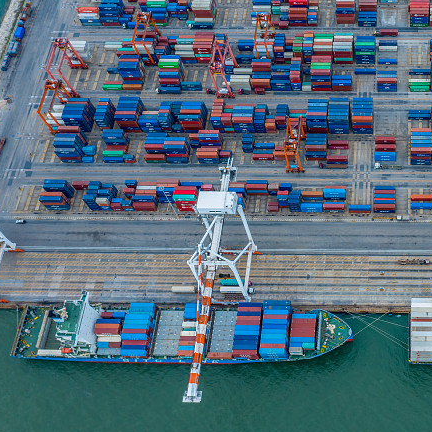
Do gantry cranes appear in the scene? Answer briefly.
Yes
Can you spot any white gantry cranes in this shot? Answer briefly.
Yes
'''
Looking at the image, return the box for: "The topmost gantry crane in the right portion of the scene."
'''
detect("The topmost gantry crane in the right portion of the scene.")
[254,10,277,66]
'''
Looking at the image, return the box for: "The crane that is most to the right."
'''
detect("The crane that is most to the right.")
[282,112,308,171]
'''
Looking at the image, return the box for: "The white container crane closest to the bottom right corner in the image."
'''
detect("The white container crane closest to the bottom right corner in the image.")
[182,157,265,399]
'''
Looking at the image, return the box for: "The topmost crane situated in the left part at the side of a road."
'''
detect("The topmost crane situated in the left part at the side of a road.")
[134,10,166,66]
